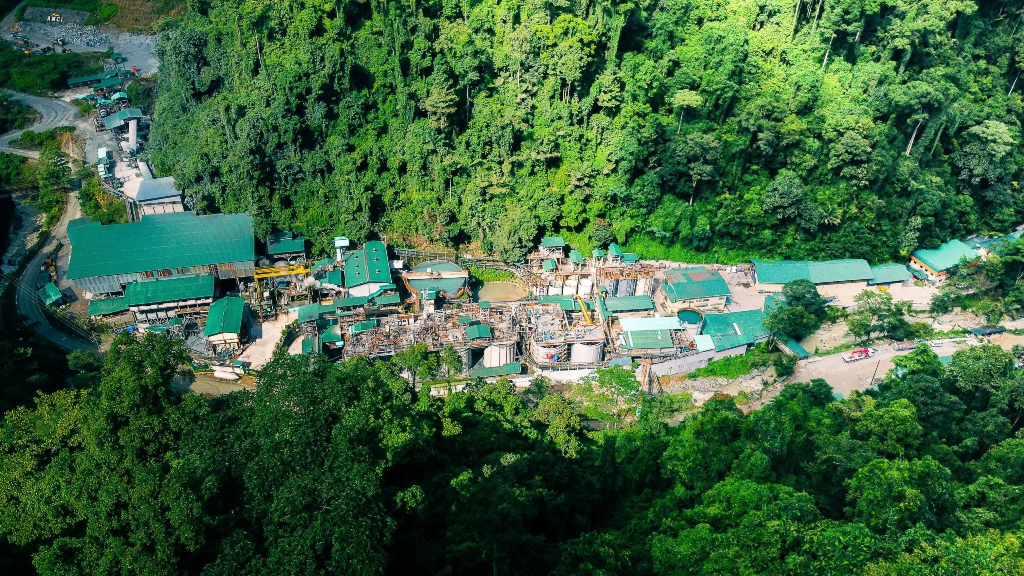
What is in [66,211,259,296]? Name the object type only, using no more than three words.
building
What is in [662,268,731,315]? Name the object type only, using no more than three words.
building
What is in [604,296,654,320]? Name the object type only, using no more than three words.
shed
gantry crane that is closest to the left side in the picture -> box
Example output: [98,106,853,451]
[254,260,317,299]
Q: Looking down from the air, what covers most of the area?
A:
trees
